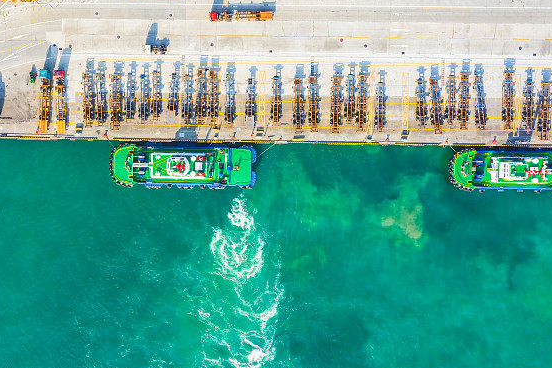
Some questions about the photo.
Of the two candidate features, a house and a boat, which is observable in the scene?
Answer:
boat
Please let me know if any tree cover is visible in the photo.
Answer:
No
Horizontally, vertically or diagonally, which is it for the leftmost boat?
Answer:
horizontally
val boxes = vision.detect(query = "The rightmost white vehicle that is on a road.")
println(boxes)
[144,42,167,55]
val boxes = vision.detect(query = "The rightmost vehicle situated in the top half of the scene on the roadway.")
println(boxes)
[210,9,275,22]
